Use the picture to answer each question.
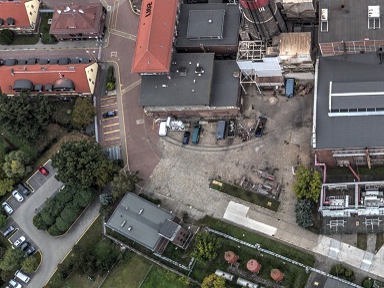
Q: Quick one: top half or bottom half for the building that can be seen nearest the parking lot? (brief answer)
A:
bottom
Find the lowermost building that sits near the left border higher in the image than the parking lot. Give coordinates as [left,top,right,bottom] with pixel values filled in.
[0,58,102,99]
